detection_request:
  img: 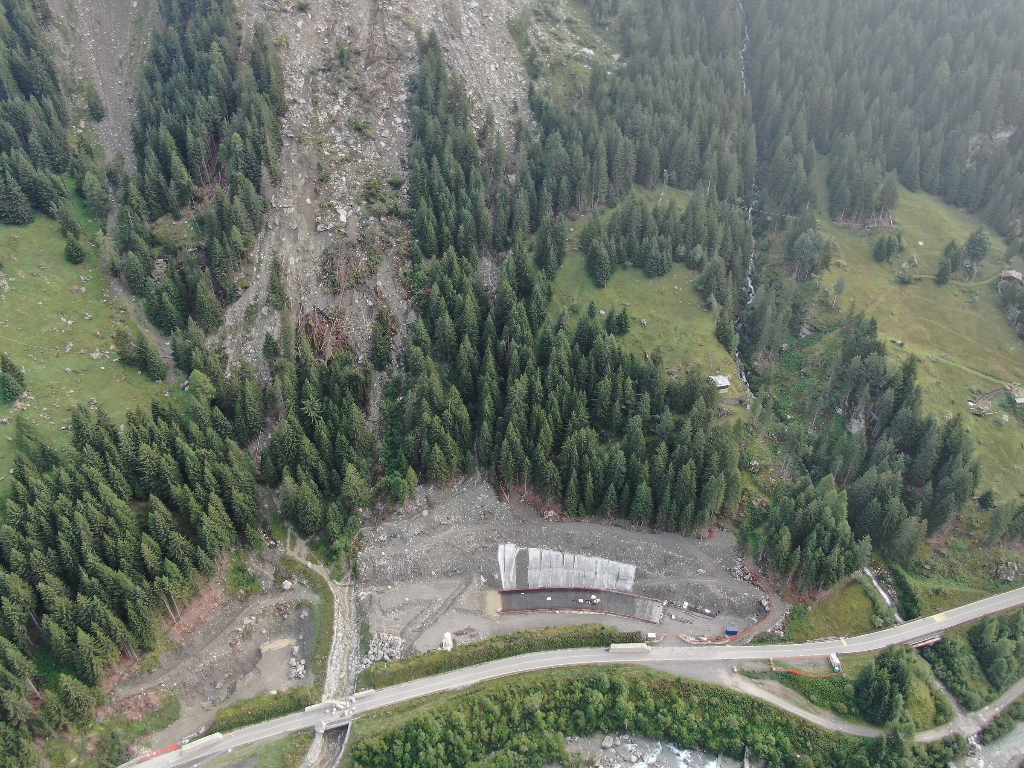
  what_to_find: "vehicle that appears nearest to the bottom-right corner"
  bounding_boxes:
[825,648,842,668]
